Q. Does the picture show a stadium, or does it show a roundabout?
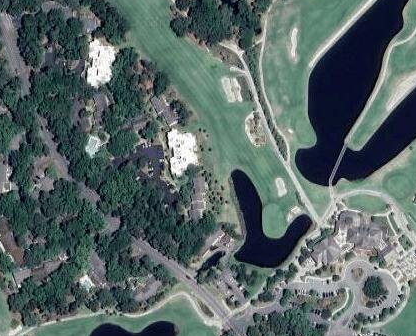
roundabout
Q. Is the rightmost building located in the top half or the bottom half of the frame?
bottom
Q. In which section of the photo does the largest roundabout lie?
bottom right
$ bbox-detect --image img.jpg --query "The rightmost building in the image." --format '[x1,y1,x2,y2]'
[333,208,397,257]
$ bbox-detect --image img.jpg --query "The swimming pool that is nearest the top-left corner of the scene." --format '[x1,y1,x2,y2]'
[84,135,102,155]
